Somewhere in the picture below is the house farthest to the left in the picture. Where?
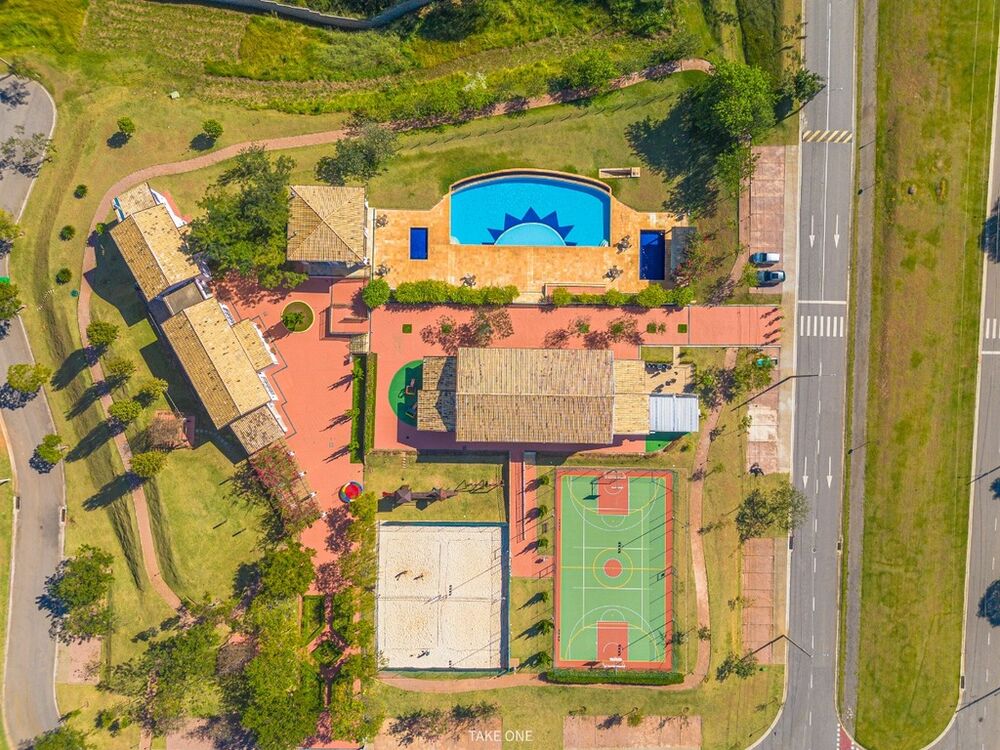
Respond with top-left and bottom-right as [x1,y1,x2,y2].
[108,183,292,455]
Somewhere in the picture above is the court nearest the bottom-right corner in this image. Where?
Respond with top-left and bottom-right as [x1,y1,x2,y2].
[554,470,674,670]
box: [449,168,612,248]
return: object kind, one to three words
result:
swimming pool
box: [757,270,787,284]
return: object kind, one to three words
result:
car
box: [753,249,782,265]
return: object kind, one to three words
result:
car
